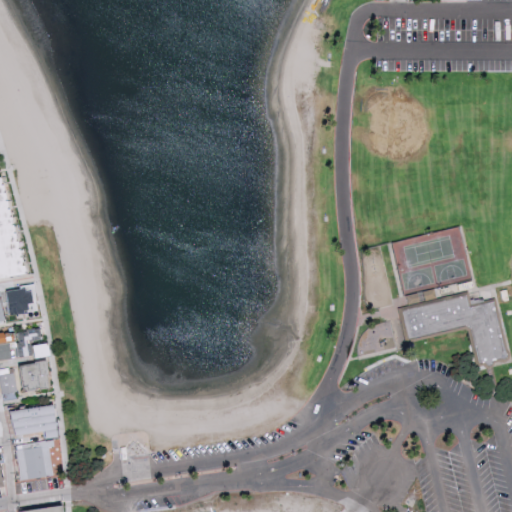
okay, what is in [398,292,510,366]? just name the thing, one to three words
building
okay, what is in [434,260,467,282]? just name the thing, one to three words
basketball court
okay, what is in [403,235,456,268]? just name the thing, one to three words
tennis court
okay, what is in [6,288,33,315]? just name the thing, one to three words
house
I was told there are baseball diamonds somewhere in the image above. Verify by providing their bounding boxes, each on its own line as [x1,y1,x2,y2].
[354,88,428,158]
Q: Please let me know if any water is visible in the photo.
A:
Yes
